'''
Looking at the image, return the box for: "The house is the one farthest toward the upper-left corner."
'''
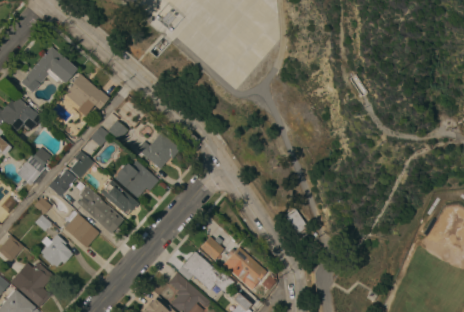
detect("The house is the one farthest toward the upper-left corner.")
[22,46,77,91]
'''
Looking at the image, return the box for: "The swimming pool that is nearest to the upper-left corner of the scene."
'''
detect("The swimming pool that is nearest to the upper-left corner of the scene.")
[34,84,56,100]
